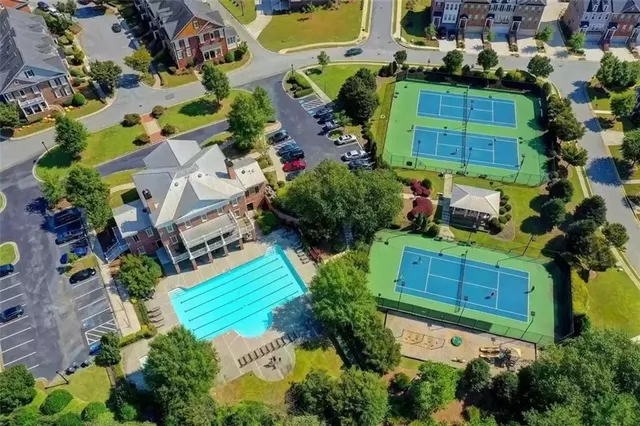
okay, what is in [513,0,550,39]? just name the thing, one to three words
house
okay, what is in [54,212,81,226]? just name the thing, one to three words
car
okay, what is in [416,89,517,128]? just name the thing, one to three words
tennis court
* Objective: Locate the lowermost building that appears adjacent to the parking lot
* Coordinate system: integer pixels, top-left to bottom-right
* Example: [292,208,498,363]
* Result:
[112,138,271,267]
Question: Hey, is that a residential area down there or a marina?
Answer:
residential area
